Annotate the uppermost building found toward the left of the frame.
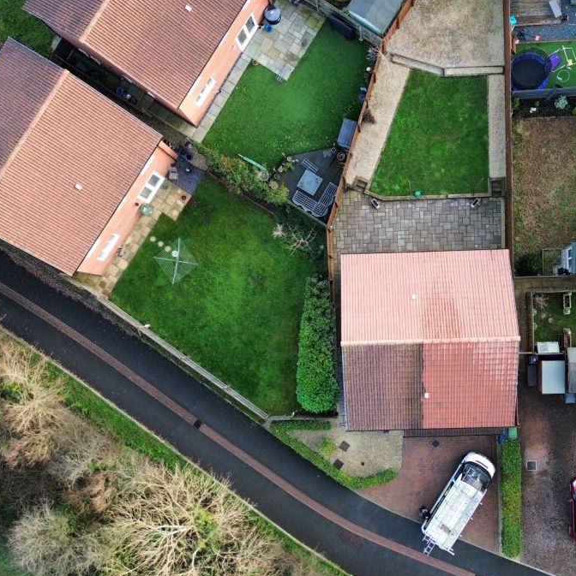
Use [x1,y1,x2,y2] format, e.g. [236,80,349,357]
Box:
[22,0,274,126]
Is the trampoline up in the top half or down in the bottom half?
top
